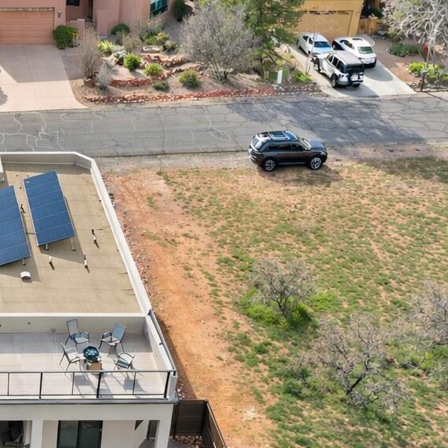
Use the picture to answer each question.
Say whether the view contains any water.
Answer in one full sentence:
No, water can't be seen anywhere here.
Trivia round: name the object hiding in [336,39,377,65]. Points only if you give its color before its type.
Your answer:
white car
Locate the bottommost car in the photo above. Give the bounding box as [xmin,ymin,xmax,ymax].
[245,133,333,172]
